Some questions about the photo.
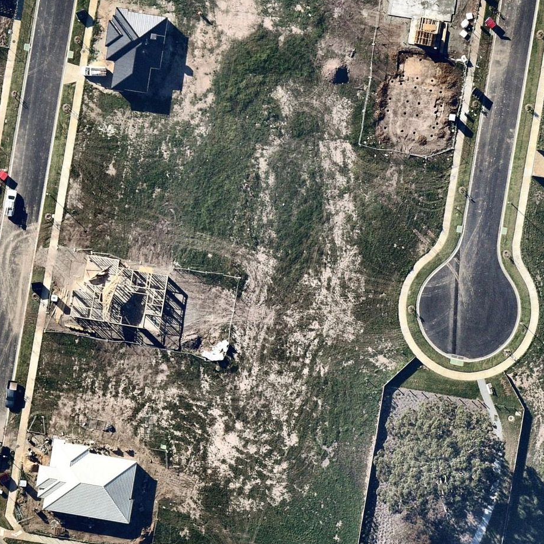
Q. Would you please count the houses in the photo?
3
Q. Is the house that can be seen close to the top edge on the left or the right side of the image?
left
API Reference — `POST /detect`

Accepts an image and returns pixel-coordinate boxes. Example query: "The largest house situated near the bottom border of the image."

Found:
[36,437,137,524]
